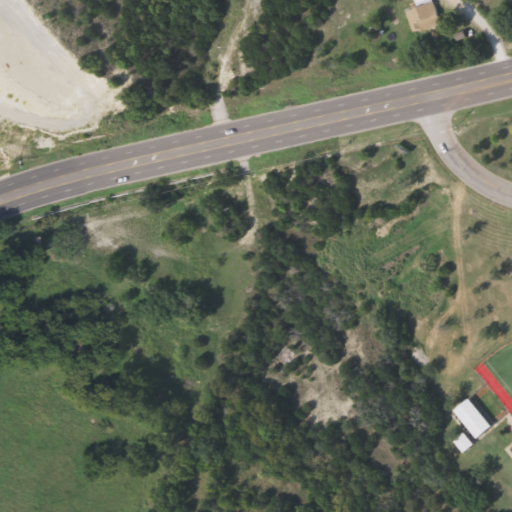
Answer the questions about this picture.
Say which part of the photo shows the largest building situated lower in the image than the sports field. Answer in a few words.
bottom right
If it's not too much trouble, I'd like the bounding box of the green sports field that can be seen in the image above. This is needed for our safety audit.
[476,342,512,398]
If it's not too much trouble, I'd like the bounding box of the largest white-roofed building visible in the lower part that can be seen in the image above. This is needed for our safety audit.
[453,400,491,440]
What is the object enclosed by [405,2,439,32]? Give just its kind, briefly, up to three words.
house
